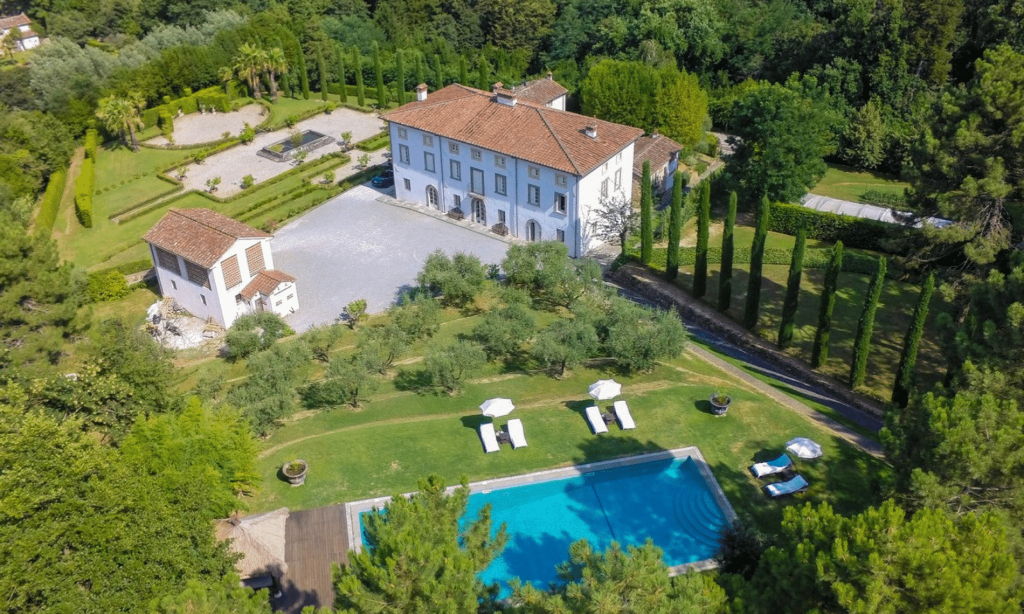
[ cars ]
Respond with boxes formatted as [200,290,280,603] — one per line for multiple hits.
[379,168,396,188]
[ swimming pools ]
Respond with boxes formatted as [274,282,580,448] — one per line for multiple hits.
[345,447,755,614]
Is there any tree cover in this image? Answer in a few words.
Yes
